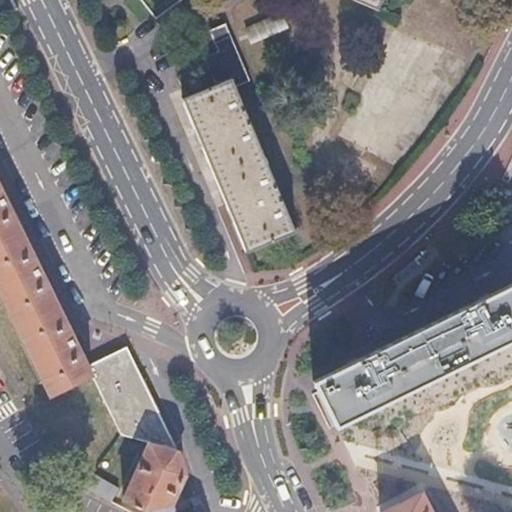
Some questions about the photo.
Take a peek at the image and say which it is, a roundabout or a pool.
roundabout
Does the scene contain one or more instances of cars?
Yes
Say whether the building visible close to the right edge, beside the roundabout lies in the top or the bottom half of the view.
bottom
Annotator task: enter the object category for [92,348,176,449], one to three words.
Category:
building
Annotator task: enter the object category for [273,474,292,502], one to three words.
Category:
vehicle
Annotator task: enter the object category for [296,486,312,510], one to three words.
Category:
car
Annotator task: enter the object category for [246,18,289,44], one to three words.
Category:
shed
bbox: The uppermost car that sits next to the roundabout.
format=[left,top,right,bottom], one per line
[172,286,191,308]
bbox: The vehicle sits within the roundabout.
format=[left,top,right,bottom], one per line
[198,336,215,358]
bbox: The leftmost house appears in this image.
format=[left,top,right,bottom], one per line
[0,182,96,400]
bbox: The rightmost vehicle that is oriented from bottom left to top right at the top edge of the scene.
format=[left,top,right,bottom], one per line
[134,20,156,40]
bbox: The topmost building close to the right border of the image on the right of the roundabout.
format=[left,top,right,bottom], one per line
[314,282,512,430]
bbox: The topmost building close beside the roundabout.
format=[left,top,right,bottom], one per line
[184,80,295,252]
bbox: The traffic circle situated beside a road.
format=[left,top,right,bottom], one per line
[185,286,287,388]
